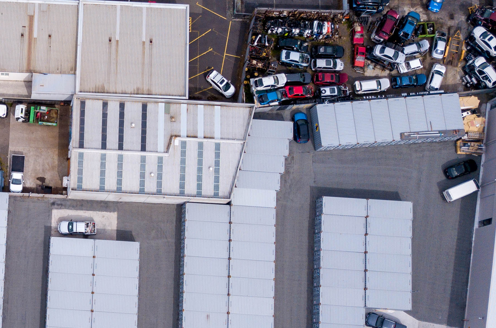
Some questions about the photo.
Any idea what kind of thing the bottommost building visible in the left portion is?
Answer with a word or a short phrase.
warehouse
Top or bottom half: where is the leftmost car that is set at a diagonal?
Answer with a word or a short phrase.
top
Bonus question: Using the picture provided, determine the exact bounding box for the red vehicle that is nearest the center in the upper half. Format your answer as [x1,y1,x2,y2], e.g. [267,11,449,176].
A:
[283,83,314,97]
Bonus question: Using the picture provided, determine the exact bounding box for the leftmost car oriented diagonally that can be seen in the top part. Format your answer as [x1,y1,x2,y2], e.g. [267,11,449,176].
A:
[204,70,239,100]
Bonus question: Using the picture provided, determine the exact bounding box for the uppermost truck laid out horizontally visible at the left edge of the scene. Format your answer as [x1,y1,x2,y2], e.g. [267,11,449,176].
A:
[15,104,59,125]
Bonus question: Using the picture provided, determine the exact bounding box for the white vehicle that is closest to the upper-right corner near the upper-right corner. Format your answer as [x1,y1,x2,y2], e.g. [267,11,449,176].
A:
[469,24,496,60]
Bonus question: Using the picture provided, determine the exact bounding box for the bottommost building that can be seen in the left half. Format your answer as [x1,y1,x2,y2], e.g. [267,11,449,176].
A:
[66,93,257,205]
